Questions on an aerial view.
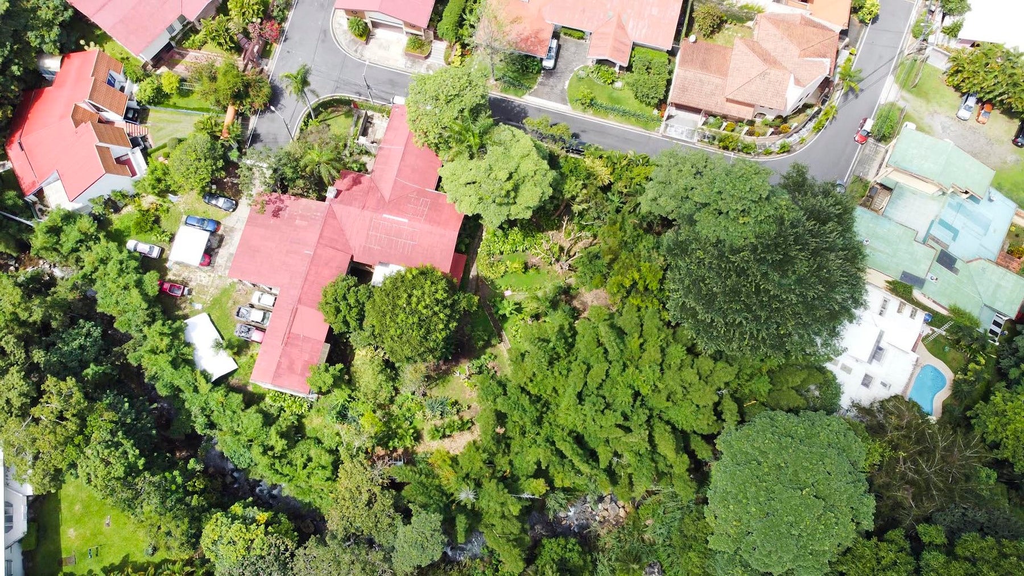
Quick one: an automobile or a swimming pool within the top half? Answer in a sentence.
Looking within the top half, you will find an automobile.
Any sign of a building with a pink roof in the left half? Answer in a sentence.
Yes, a building with a pink roof appears in the left half.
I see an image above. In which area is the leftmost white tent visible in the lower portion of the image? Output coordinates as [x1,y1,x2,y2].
[185,313,243,380]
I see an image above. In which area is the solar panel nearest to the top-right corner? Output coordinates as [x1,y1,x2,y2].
[936,249,958,269]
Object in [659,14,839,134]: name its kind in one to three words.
house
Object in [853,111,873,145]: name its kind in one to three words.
car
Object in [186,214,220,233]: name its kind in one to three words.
car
